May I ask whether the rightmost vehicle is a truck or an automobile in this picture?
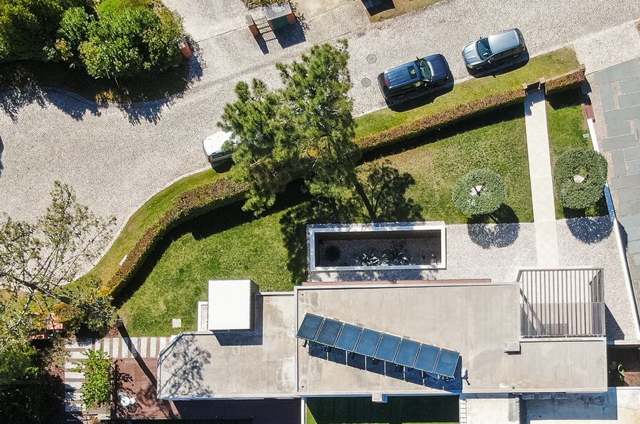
automobile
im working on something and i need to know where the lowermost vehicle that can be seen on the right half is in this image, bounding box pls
[377,53,454,102]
